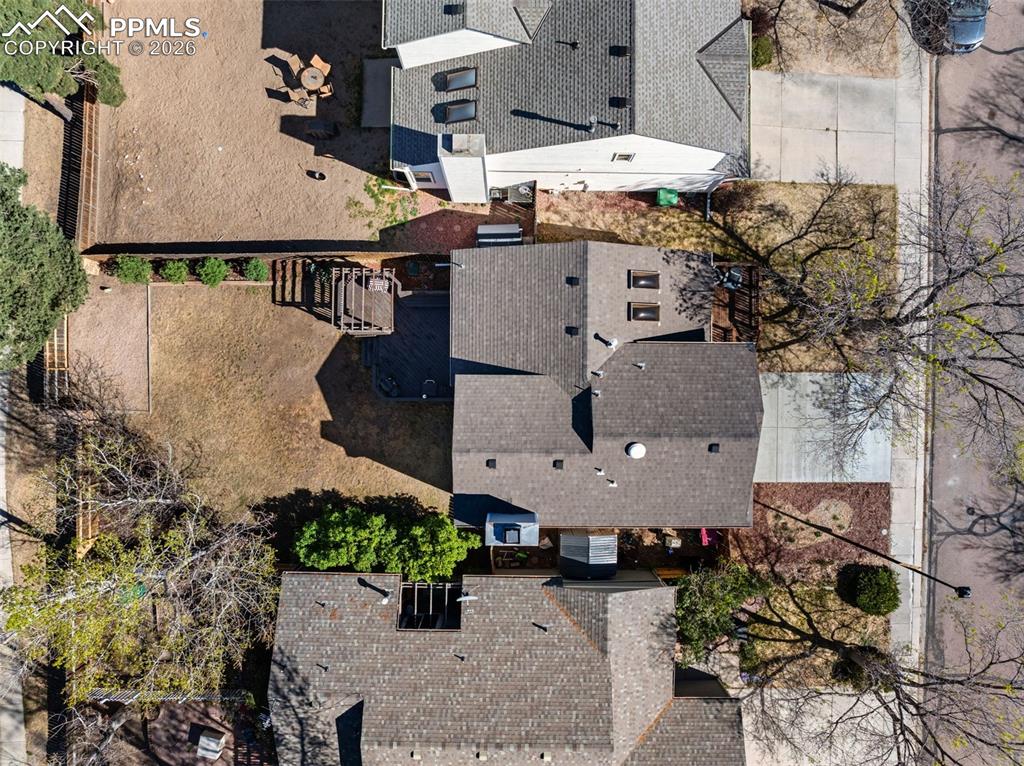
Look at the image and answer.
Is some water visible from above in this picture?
No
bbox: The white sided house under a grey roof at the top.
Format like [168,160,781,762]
[380,0,752,221]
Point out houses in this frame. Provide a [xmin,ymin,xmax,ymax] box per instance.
[448,241,767,546]
[268,562,746,766]
[380,0,752,221]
